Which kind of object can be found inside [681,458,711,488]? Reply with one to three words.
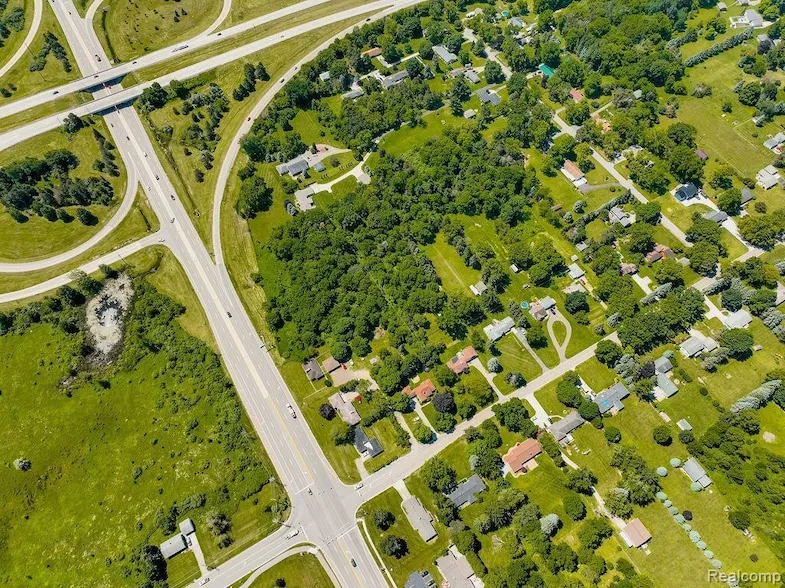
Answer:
barn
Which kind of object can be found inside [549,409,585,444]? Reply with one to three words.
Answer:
house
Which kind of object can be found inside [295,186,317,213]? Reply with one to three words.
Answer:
house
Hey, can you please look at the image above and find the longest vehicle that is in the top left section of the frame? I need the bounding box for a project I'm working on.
[170,41,191,53]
